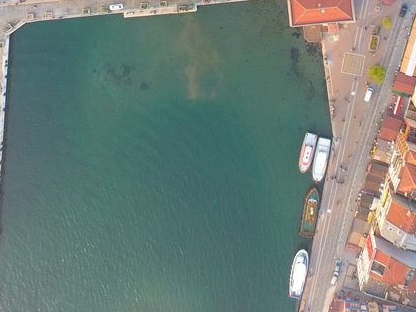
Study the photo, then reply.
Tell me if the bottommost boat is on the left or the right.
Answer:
right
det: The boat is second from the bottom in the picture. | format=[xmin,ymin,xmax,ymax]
[300,186,318,237]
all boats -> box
[300,131,317,172]
[300,186,318,237]
[314,136,332,181]
[288,248,310,298]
